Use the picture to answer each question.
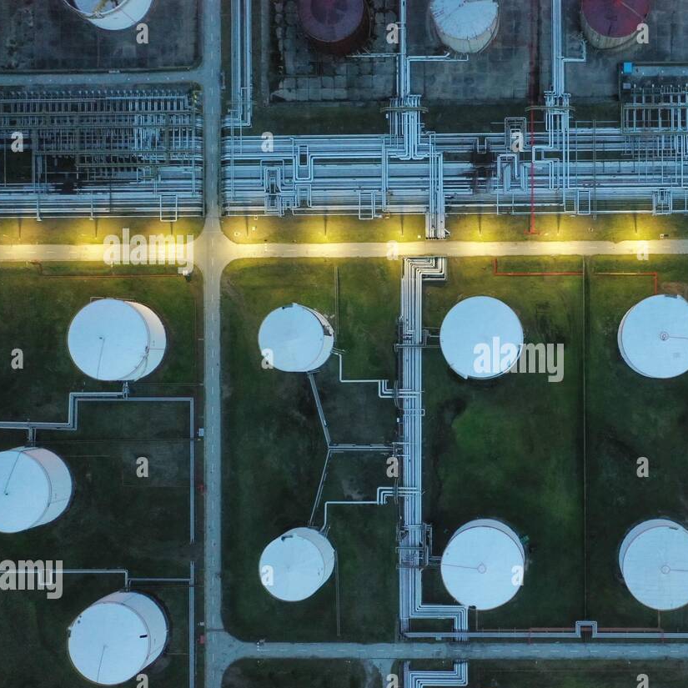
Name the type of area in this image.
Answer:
industrial area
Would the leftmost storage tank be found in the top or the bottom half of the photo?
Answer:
bottom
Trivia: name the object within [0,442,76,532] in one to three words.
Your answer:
storage tank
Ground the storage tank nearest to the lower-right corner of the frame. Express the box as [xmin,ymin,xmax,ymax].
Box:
[616,517,688,610]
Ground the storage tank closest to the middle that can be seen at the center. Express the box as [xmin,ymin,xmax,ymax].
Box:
[257,305,336,374]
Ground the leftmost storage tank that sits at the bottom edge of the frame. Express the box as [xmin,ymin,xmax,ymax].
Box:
[65,586,171,685]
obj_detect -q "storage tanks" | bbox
[0,442,76,532]
[64,0,155,33]
[577,0,651,51]
[439,295,525,380]
[616,517,688,610]
[298,0,373,56]
[258,524,337,601]
[440,517,526,610]
[615,294,688,379]
[65,586,171,685]
[431,0,502,55]
[257,305,336,374]
[67,298,168,383]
